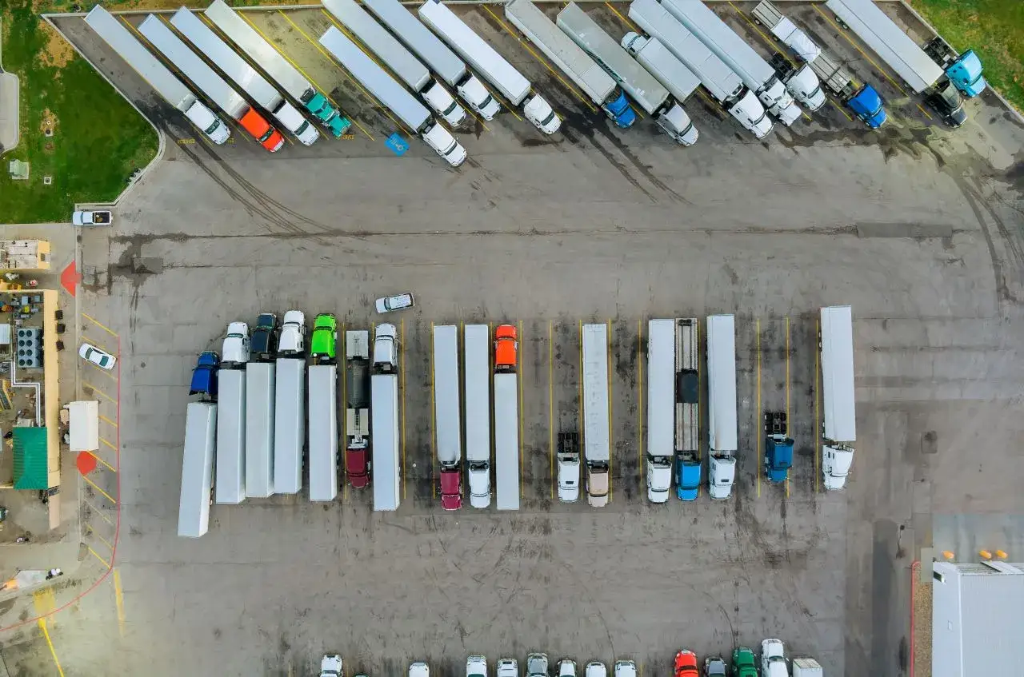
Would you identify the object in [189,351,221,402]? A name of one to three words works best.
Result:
truck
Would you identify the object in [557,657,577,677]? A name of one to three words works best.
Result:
vehicle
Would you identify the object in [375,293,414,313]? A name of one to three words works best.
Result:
car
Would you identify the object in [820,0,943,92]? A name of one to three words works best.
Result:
trailer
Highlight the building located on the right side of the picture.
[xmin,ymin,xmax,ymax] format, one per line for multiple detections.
[931,564,1024,677]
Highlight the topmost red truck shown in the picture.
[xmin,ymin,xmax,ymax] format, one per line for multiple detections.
[236,89,284,152]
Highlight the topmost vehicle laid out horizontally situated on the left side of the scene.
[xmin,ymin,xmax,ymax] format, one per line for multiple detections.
[70,207,112,225]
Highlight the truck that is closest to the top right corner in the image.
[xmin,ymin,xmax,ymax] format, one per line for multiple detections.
[925,45,989,100]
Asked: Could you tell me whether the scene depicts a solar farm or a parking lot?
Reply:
parking lot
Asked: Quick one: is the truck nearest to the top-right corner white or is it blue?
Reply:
blue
